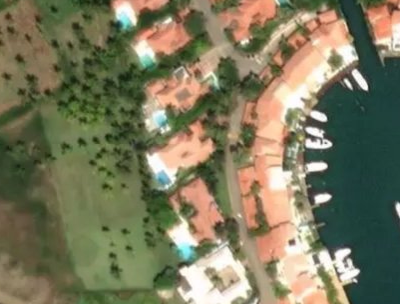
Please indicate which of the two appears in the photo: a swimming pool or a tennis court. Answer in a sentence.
This aerial view contains a swimming pool.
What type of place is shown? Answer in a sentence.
This image shows a residential area.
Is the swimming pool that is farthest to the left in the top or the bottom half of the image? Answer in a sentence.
The swimming pool that is farthest to the left sits in the top half of the picture.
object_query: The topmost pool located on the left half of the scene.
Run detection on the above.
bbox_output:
[115,3,138,30]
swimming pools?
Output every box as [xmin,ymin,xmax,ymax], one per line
[115,3,138,30]
[134,40,156,69]
[145,97,171,132]
[146,155,177,189]
[170,220,198,261]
